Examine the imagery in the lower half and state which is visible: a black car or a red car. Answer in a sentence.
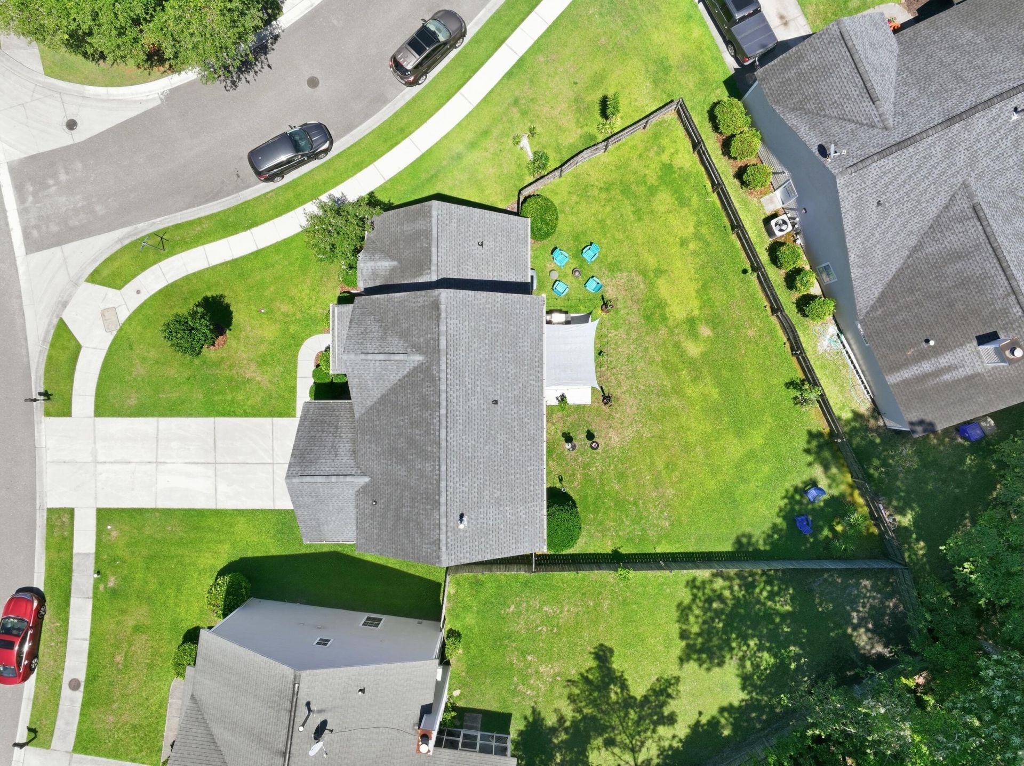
The feature located in the lower half is a red car.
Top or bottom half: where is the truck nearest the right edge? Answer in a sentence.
Seen from above, the truck nearest the right edge lies in the top half of the view.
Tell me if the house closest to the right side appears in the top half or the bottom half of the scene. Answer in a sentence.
It is in the top half that the house closest to the right side appears.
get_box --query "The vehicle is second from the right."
[392,11,467,85]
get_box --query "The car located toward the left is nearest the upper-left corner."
[247,122,333,184]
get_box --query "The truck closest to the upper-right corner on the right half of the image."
[697,0,776,68]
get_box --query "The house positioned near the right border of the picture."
[742,0,1024,437]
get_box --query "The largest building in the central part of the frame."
[285,200,548,567]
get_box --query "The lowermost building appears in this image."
[167,602,516,766]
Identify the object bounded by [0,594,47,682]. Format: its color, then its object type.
red car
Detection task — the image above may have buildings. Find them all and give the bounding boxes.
[285,200,548,567]
[742,0,1024,437]
[167,602,516,766]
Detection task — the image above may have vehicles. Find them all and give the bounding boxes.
[0,594,47,682]
[247,122,333,184]
[697,0,776,68]
[392,11,467,85]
